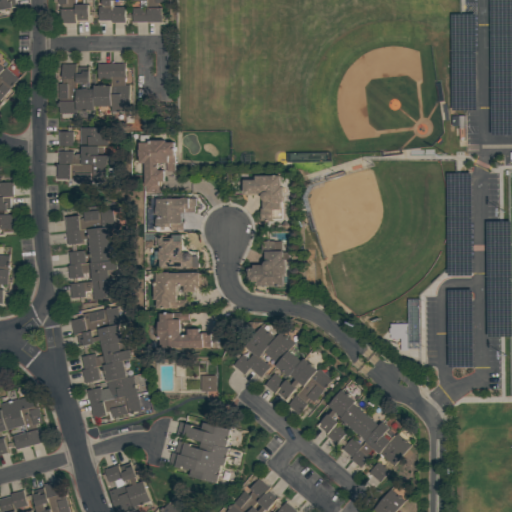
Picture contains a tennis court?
No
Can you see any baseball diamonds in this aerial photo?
Yes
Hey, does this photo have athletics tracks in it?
No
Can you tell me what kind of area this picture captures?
residential area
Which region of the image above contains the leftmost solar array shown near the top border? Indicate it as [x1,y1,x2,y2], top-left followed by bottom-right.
[450,12,476,110]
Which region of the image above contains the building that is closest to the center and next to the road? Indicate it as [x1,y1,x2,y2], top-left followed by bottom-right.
[248,241,288,287]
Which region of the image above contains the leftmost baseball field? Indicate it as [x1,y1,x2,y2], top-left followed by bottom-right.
[310,170,384,276]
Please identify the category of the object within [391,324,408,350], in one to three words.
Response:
building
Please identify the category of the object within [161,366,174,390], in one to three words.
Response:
swimming pool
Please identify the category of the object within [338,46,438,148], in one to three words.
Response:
baseball field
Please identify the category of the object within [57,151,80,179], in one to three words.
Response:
house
